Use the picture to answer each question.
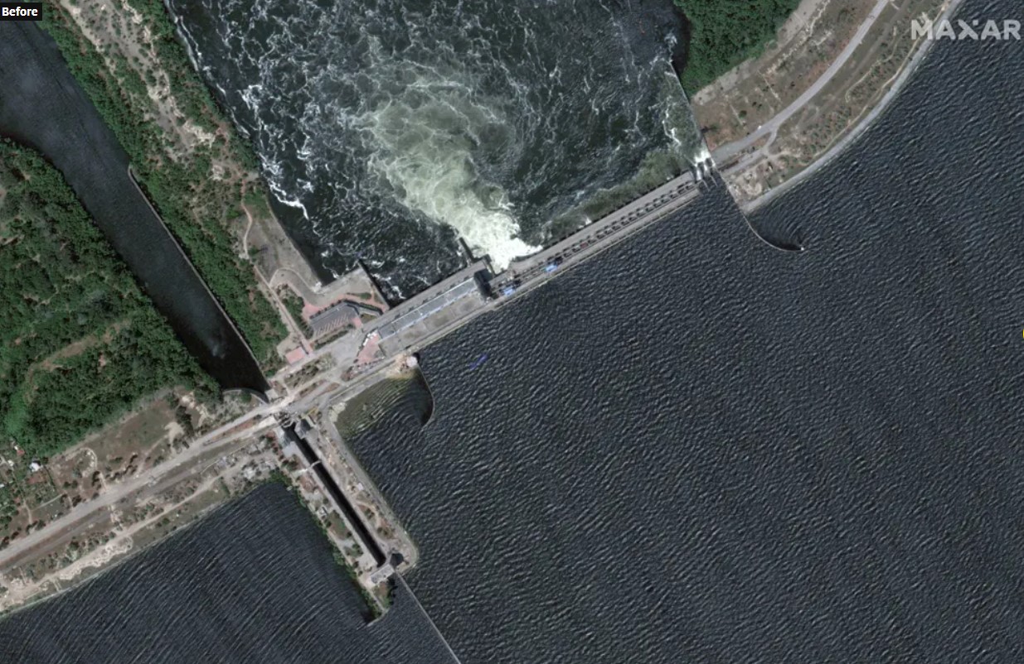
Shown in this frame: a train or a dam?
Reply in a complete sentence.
Looking from above, you can make out a dam.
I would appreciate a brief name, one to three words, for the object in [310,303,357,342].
building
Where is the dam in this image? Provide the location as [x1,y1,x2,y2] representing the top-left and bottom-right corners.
[490,170,702,312]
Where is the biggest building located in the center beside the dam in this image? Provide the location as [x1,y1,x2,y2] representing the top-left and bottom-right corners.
[378,257,509,366]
